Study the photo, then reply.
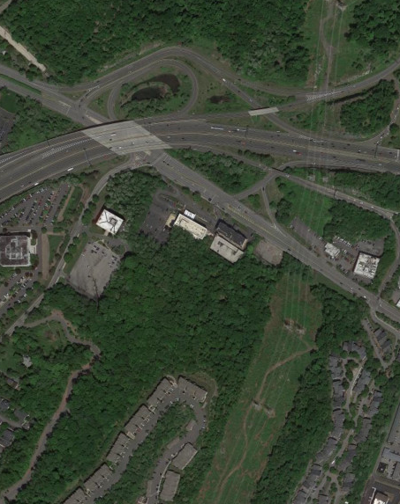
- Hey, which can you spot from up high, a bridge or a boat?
bridge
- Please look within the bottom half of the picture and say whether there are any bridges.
No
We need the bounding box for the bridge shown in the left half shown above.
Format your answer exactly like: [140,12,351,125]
[83,120,172,154]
